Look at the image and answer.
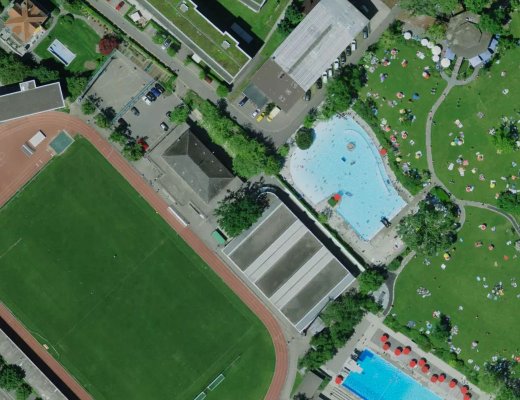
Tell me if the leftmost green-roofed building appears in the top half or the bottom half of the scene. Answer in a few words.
top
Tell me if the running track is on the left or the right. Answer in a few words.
left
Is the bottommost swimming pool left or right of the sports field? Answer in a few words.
to its right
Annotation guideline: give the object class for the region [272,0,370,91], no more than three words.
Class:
building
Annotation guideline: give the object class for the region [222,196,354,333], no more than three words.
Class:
building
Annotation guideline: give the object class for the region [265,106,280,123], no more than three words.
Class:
vehicle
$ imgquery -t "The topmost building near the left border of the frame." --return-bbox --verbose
[1,0,48,56]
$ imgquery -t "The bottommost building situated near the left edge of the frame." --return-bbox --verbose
[0,80,65,123]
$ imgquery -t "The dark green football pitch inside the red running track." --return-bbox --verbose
[0,132,276,400]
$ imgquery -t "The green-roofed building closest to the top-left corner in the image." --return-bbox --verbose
[135,0,252,83]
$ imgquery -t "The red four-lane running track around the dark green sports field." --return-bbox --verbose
[0,108,289,400]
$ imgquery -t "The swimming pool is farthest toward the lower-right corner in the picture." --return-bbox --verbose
[340,346,454,400]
